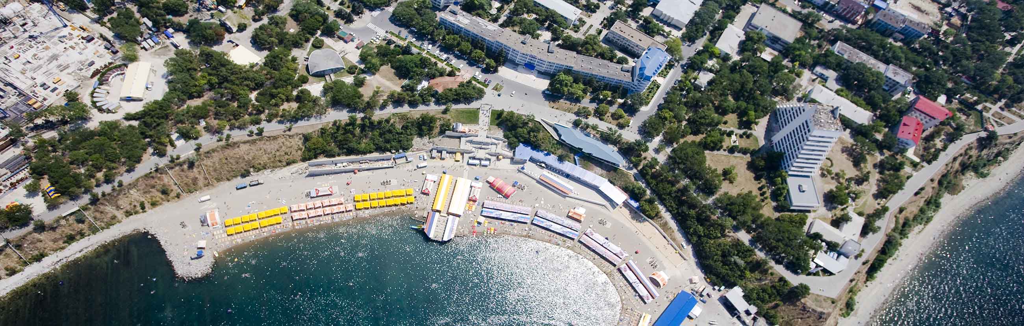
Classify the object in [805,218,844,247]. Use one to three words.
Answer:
building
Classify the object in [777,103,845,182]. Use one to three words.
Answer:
building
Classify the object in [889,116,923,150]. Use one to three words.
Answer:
house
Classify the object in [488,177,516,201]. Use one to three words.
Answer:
tent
